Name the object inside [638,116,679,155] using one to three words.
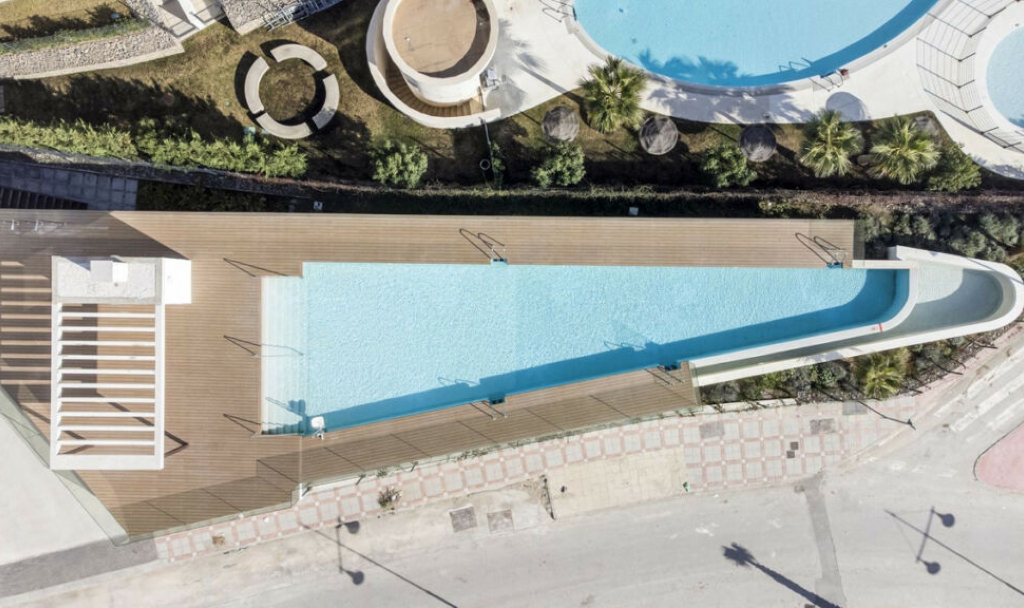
umbrella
